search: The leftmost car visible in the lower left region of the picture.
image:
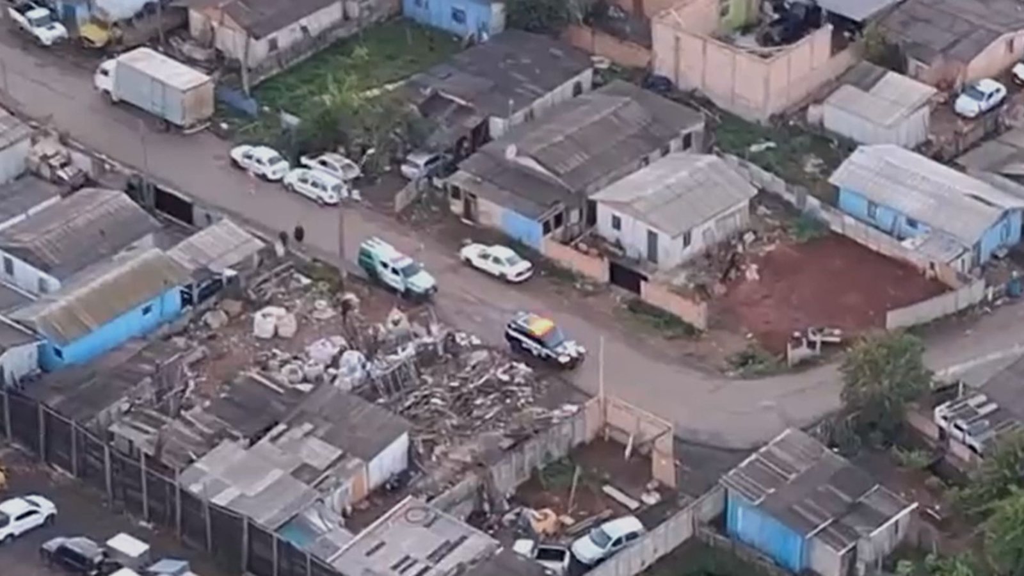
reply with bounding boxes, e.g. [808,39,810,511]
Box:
[0,491,63,550]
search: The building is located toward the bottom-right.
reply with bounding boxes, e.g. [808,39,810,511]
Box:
[723,435,920,576]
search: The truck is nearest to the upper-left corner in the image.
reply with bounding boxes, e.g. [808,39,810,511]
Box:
[3,7,69,49]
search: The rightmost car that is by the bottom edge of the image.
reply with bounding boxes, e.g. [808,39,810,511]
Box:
[569,510,649,565]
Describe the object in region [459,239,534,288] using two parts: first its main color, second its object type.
white car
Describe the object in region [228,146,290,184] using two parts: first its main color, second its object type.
white car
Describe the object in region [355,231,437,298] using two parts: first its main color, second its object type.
white truck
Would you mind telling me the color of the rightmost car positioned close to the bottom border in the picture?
white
